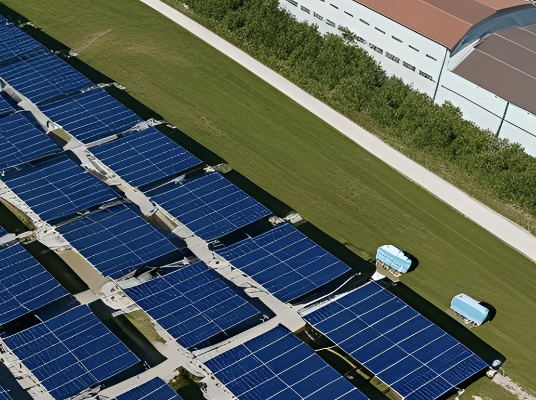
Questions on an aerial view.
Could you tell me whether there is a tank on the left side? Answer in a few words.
No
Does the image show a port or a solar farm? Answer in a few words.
solar farm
